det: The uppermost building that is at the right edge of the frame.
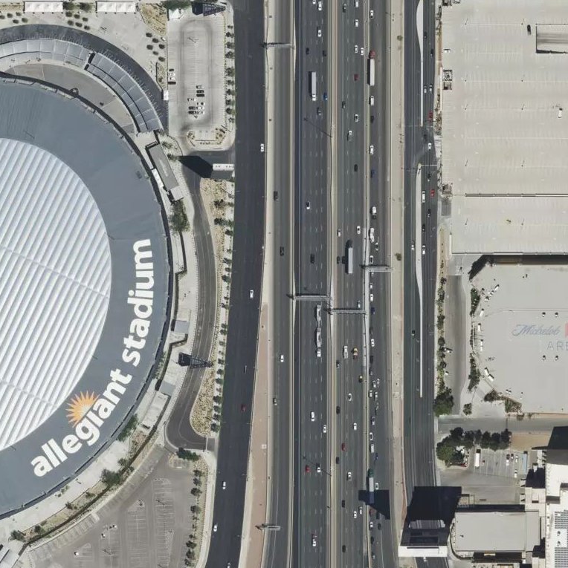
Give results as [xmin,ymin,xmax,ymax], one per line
[441,0,568,196]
